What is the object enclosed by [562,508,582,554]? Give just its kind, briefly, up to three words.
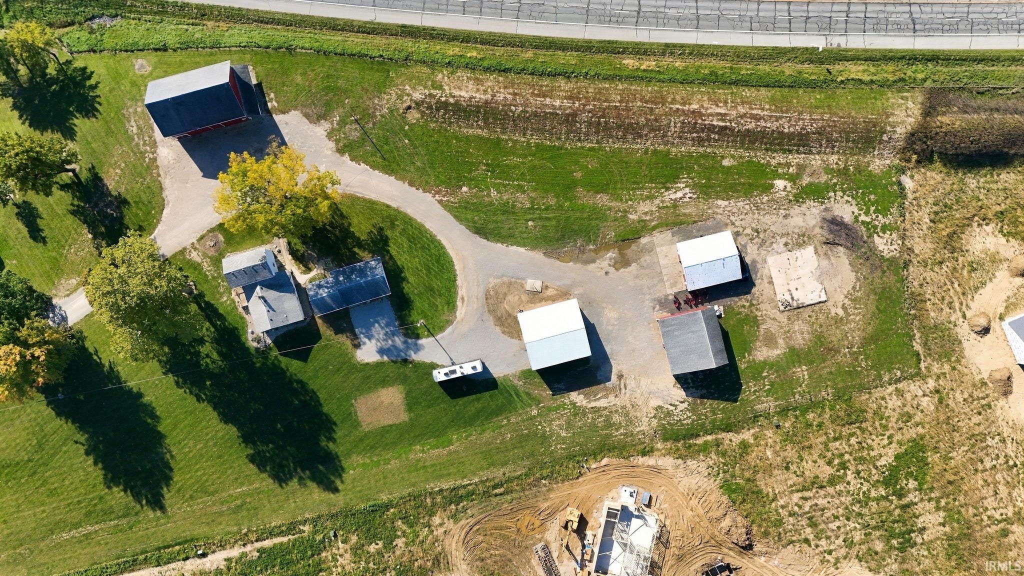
work vehicle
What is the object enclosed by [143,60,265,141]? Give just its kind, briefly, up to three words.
barn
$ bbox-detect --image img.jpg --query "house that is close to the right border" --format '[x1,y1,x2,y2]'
[995,310,1024,368]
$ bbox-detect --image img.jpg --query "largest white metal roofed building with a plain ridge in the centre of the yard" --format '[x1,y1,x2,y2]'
[518,298,591,370]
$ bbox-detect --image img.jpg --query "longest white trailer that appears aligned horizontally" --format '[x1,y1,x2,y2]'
[431,359,484,381]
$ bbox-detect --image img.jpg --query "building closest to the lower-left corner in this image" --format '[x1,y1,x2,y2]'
[222,248,305,334]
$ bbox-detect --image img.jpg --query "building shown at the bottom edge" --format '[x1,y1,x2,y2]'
[593,499,659,576]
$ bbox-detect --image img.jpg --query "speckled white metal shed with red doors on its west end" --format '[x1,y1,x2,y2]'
[674,230,743,291]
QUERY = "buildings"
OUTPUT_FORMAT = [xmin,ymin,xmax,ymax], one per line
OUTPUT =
[518,298,591,370]
[674,230,743,291]
[308,257,391,316]
[143,60,265,141]
[995,310,1024,368]
[655,305,728,375]
[222,248,305,334]
[593,499,659,576]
